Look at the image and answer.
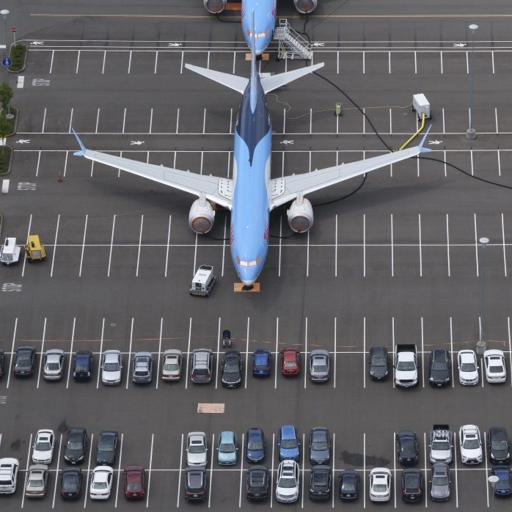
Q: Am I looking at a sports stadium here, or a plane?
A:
plane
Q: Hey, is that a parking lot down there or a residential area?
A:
parking lot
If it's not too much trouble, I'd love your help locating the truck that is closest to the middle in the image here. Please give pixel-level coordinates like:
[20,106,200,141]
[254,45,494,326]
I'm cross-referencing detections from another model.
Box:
[188,260,217,291]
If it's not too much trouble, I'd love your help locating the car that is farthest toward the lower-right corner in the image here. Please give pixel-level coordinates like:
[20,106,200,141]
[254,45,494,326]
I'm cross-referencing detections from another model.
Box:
[490,463,512,495]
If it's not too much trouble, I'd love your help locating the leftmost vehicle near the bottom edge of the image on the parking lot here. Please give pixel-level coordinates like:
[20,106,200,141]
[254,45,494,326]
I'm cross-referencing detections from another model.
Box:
[0,458,20,493]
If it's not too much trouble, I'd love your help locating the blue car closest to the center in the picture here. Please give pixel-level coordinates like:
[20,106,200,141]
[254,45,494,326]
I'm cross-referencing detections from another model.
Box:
[251,349,274,376]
